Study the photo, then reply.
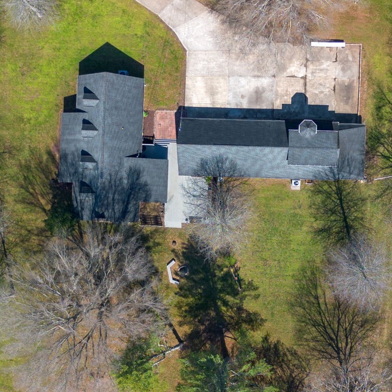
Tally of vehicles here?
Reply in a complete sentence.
There are no vehicles in the image.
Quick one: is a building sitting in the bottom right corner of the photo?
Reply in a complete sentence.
No, I see no building in the bottom right corner of the photo.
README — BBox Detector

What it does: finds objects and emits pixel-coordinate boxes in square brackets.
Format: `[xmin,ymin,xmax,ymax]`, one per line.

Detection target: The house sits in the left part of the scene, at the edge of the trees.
[58,72,169,222]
